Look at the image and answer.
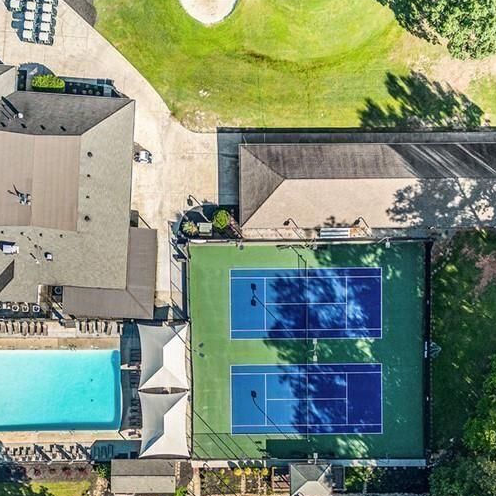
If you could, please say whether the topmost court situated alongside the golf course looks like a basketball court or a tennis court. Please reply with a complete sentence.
I'd identify the topmost court situated alongside the golf course as a tennis court.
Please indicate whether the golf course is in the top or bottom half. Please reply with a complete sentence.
You can find the golf course in the top half.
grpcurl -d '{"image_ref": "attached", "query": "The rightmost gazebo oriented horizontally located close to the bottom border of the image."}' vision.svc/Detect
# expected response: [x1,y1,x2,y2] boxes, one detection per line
[274,463,346,496]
